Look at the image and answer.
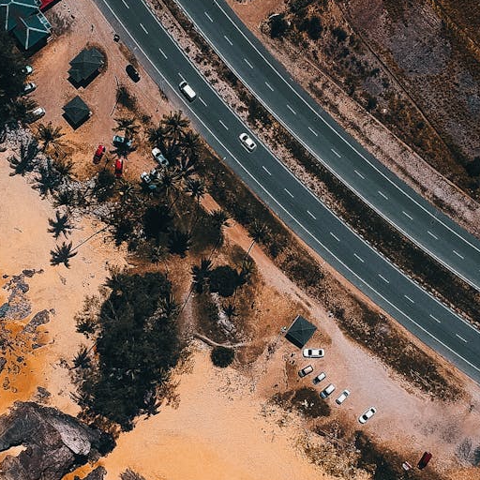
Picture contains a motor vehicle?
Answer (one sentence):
Yes, a motor vehicle appears in the view.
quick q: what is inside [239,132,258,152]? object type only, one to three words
car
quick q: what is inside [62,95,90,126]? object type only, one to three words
shed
